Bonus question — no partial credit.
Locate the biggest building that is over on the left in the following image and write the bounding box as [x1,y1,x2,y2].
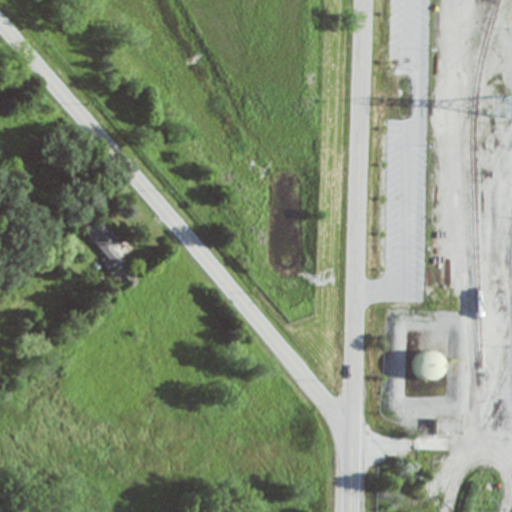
[85,218,134,264]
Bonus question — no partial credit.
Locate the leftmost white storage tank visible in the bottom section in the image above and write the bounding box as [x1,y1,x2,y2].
[413,350,448,382]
